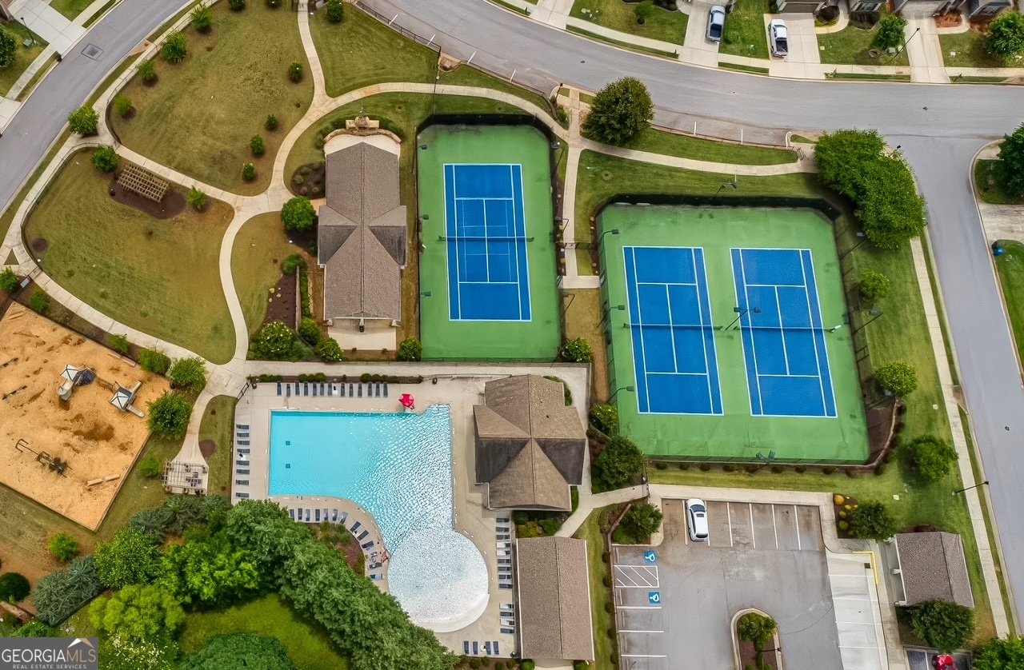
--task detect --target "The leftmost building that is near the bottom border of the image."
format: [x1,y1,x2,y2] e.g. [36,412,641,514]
[515,536,596,662]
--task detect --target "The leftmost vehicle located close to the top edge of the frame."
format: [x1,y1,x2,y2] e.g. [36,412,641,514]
[707,7,726,42]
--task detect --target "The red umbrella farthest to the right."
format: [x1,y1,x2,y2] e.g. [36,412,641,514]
[400,394,414,407]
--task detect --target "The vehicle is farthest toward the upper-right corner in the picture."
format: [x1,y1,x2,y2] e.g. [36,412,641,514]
[769,22,788,57]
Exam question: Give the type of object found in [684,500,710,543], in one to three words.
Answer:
car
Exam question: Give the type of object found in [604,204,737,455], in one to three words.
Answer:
tennis court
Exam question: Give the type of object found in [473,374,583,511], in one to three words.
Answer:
building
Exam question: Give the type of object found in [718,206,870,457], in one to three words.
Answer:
tennis court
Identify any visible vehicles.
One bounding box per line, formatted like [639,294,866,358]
[769,22,788,57]
[707,7,726,42]
[684,500,710,543]
[930,652,954,670]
